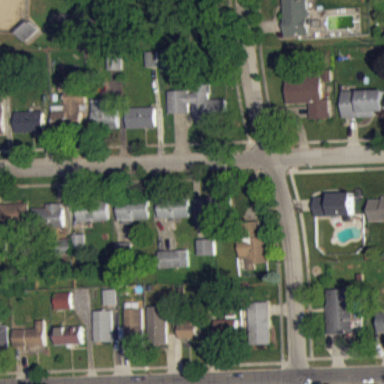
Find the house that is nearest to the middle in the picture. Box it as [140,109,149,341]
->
[154,200,190,224]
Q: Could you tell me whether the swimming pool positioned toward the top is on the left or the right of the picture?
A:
right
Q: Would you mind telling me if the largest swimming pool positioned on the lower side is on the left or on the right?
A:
right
